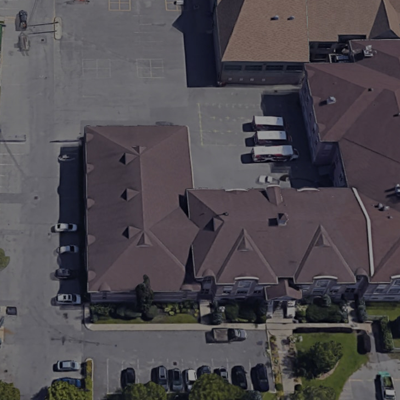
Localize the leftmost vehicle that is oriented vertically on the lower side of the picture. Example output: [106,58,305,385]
[121,365,135,392]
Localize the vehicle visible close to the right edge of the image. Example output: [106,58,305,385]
[375,371,398,400]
